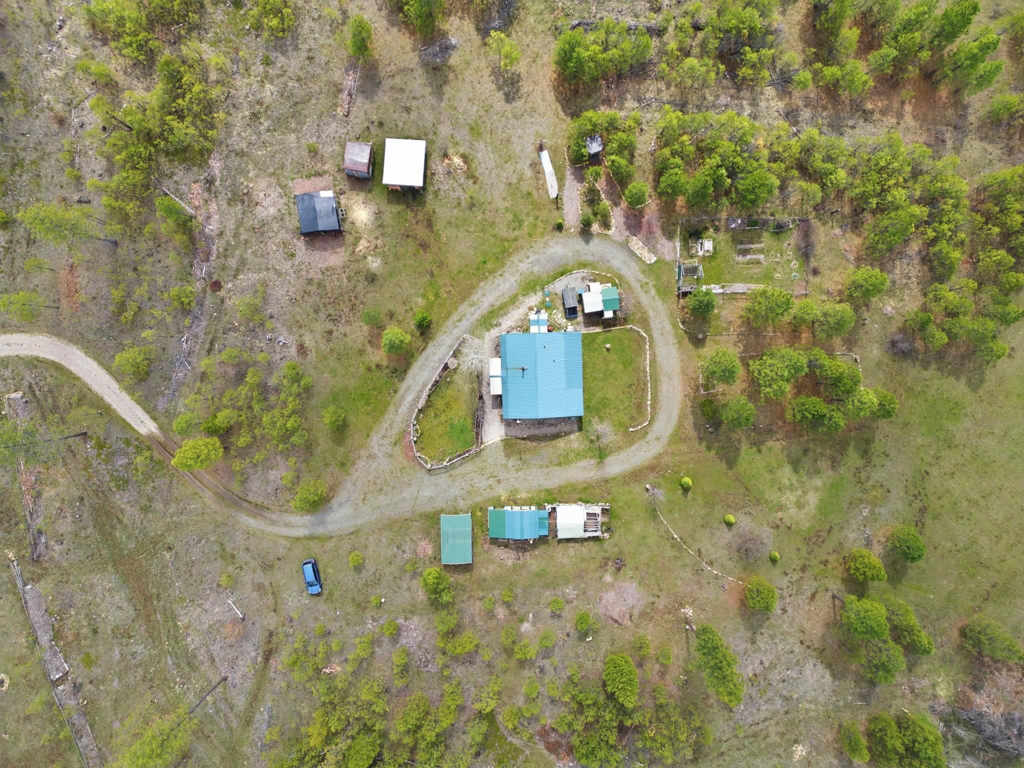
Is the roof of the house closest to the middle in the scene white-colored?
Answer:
No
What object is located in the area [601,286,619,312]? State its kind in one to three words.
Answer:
shed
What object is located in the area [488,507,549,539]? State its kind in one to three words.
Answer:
shed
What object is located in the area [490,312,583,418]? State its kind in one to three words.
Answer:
house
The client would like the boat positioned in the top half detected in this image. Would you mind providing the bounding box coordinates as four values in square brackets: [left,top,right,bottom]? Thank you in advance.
[540,150,557,197]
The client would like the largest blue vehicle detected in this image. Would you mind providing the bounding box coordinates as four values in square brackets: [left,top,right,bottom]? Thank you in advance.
[302,557,321,595]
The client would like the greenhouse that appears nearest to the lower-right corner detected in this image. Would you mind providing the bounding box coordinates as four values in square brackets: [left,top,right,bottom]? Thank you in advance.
[556,503,600,540]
